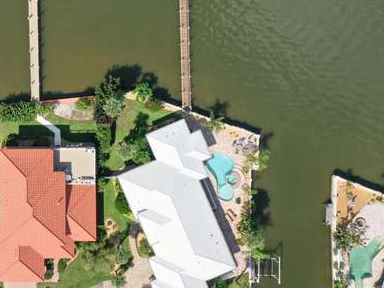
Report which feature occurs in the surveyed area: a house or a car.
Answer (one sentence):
Of the two, only a house appears.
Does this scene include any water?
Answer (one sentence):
Yes, some water is visible.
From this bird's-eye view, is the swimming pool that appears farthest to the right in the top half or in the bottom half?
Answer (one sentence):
Seen from above, the swimming pool that appears farthest to the right lies in the bottom half of the view.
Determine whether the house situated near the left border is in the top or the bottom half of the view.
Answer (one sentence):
Seen from above, the house situated near the left border lies in the bottom half of the view.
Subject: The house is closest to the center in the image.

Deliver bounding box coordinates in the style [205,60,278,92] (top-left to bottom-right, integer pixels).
[118,119,235,288]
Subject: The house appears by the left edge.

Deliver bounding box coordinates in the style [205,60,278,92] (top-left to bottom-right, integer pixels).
[0,145,97,283]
